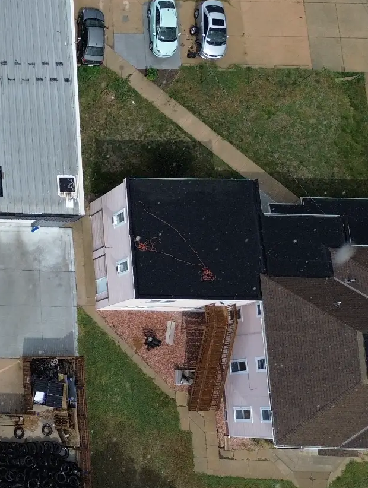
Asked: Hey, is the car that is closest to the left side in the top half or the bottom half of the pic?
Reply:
top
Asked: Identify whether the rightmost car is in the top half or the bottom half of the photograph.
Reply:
top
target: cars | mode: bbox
[197,0,233,62]
[77,8,112,66]
[146,0,183,61]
